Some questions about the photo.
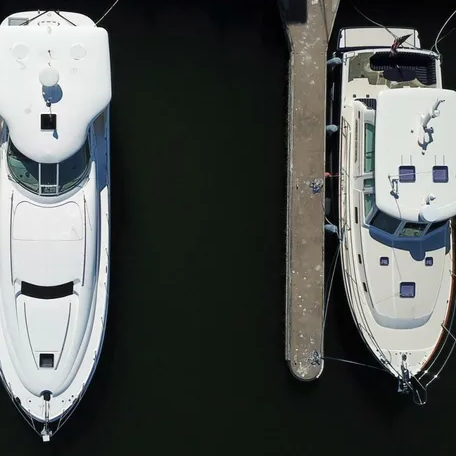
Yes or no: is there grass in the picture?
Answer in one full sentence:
No, grass can't be seen anywhere here.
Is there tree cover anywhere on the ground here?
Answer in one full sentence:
No, no tree cover is visible.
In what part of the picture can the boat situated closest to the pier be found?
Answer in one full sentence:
The boat situated closest to the pier appears toward the right of the photo.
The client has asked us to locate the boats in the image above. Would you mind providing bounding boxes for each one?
[0,10,112,446]
[332,27,456,414]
